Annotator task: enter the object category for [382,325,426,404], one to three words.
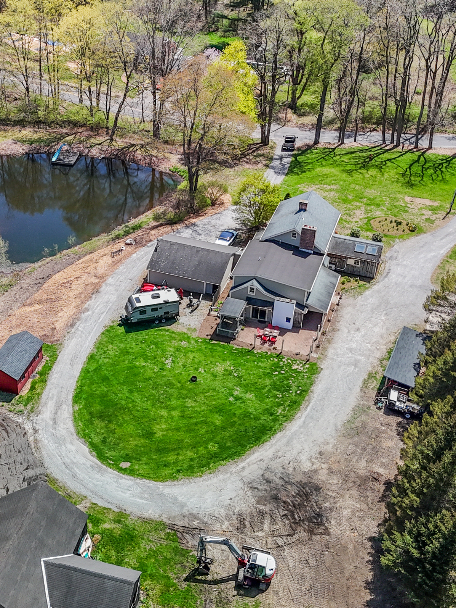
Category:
shed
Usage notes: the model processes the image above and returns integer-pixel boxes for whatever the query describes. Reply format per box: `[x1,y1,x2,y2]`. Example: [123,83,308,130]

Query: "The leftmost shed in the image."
[0,331,43,394]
